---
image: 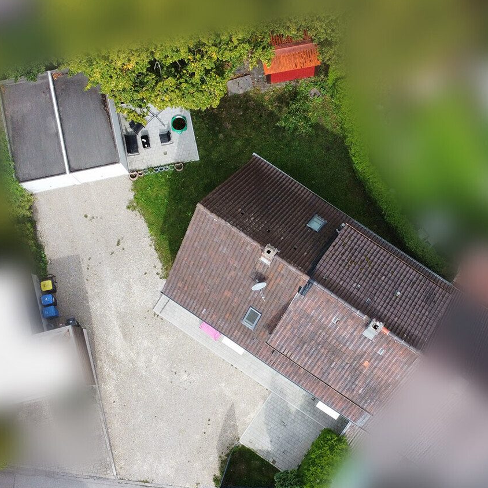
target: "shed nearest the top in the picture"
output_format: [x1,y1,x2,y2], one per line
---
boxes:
[259,31,321,84]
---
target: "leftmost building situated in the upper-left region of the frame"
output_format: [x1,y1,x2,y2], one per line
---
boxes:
[0,64,130,193]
